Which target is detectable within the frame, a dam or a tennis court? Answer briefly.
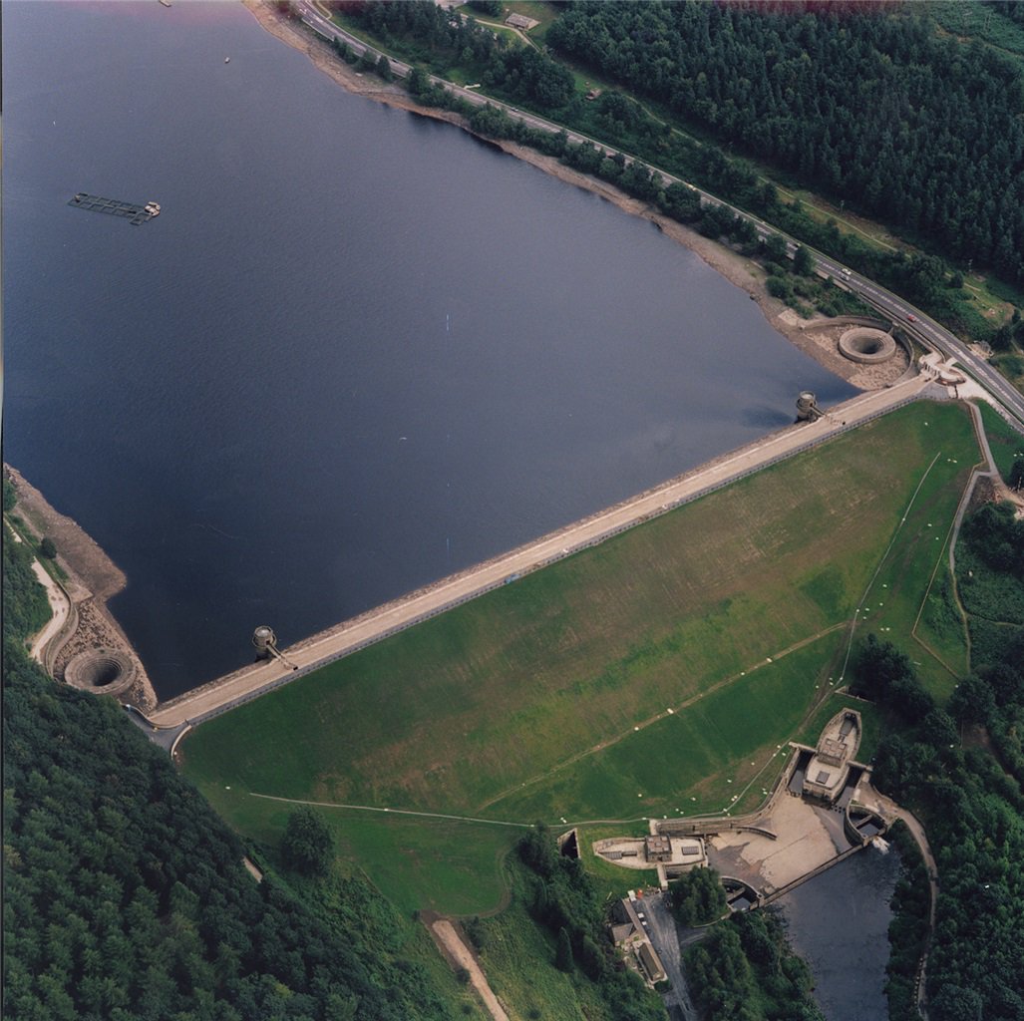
dam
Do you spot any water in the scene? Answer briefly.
Yes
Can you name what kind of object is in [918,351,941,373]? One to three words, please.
building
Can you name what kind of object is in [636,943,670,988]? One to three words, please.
house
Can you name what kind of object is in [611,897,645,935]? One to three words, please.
house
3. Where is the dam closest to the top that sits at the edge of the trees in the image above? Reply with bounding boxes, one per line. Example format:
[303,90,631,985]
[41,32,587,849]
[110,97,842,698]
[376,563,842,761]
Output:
[133,373,922,724]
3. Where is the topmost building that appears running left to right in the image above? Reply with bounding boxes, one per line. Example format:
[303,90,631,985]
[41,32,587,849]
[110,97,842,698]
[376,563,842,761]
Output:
[502,15,533,30]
